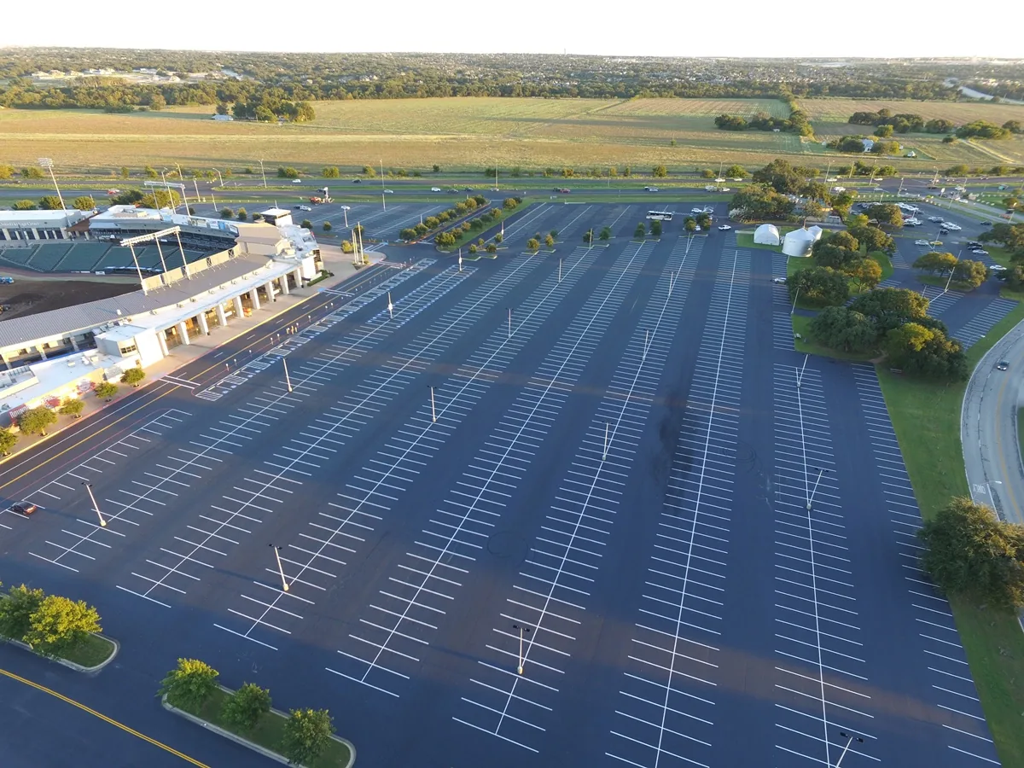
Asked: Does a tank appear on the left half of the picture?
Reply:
No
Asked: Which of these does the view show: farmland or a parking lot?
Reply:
parking lot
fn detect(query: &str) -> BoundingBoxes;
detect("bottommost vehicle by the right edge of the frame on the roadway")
[995,358,1010,370]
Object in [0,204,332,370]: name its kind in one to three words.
stadium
